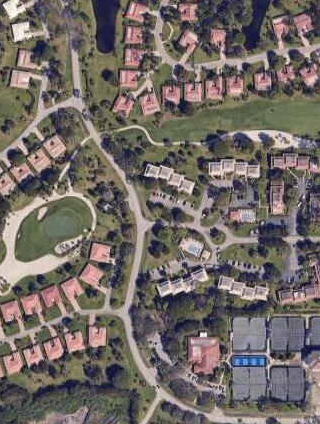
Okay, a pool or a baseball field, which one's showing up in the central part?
pool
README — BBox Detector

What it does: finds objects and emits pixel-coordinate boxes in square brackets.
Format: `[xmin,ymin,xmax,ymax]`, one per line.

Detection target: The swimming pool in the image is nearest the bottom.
[179,234,205,259]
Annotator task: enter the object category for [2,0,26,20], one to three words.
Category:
house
